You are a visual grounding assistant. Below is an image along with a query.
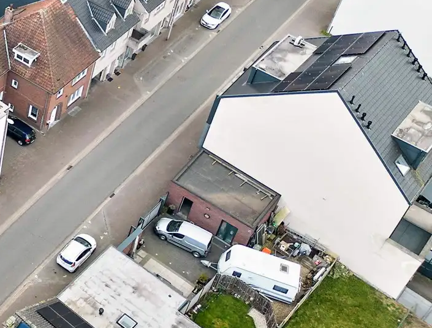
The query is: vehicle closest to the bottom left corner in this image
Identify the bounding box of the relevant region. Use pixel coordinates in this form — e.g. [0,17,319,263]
[53,231,100,275]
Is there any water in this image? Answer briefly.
No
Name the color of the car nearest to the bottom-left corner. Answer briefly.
white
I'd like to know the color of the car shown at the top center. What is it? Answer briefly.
white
